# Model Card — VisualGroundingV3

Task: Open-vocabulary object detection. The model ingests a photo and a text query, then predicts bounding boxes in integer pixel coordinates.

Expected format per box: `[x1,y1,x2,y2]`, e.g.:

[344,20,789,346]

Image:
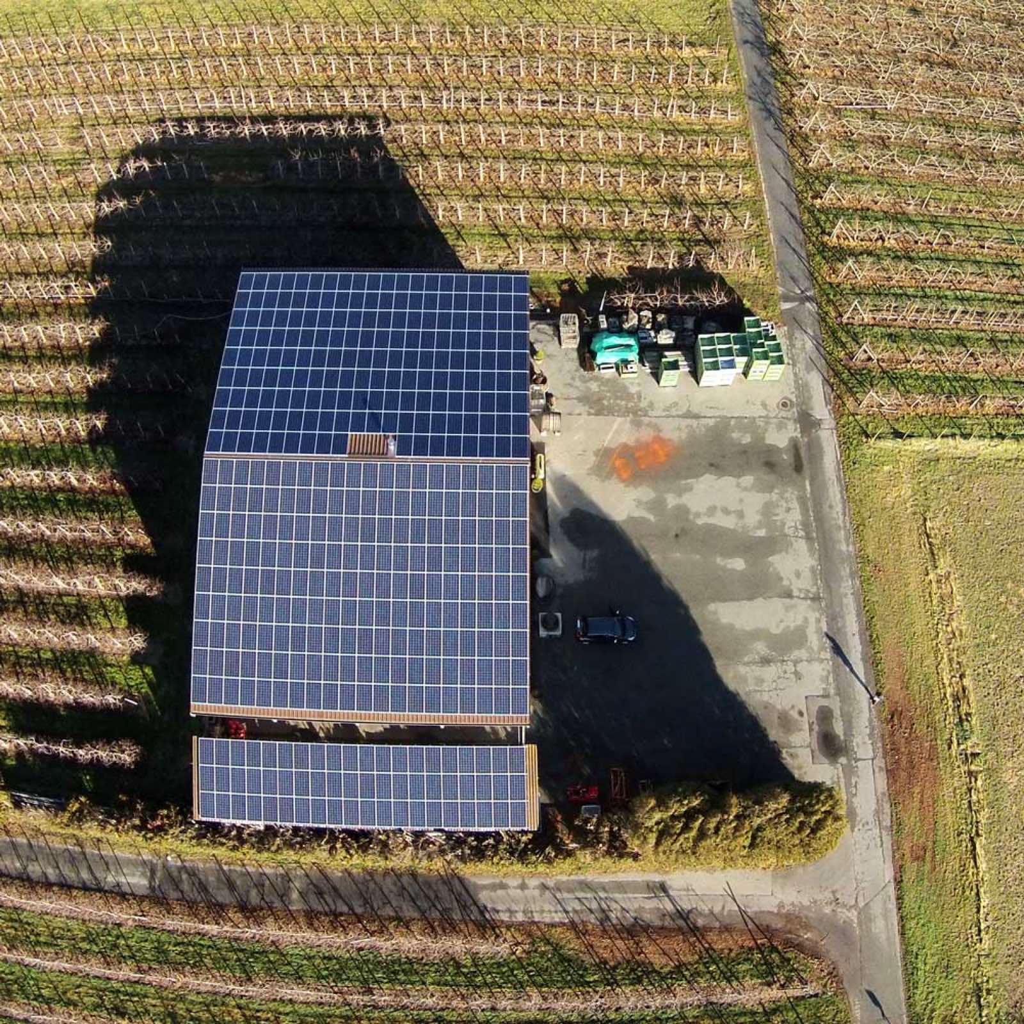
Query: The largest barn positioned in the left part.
[188,266,534,753]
